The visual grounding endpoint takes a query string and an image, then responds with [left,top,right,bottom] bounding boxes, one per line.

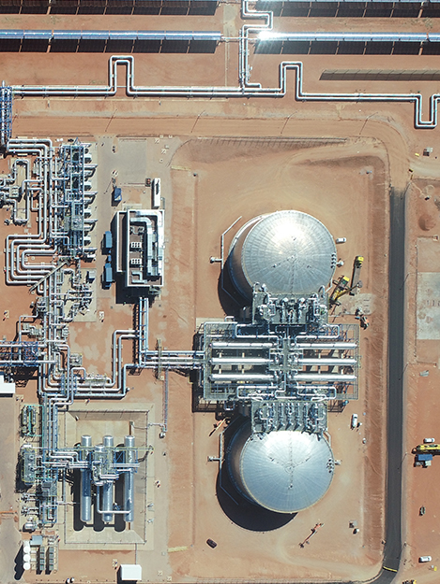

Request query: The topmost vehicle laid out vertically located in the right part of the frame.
[351,258,366,295]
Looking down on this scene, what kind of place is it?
industrial area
